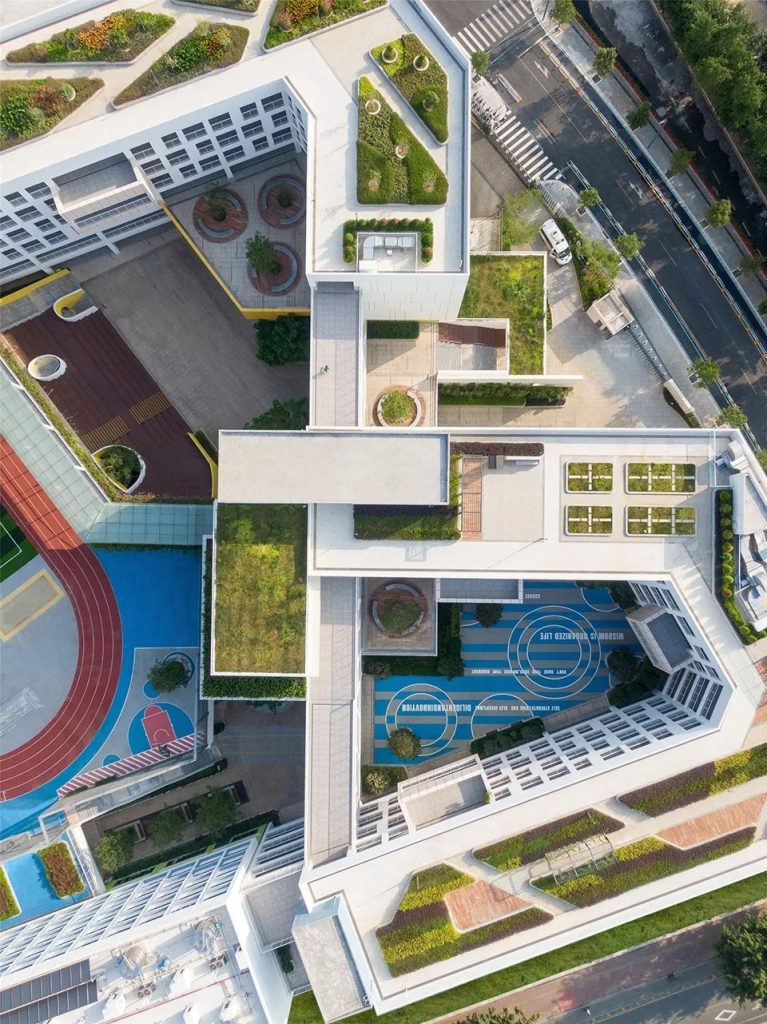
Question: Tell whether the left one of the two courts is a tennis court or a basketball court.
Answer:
basketball court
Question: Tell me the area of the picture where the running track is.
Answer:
left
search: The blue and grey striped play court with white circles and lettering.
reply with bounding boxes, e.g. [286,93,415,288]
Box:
[375,573,653,766]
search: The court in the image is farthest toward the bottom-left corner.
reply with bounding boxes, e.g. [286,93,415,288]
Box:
[80,648,198,776]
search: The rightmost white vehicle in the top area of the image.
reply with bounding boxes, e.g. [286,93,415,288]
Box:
[540,218,571,264]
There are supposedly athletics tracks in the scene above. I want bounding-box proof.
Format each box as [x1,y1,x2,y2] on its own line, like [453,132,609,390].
[0,435,123,799]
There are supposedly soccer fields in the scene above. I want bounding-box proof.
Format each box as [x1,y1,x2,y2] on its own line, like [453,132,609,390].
[0,507,37,575]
